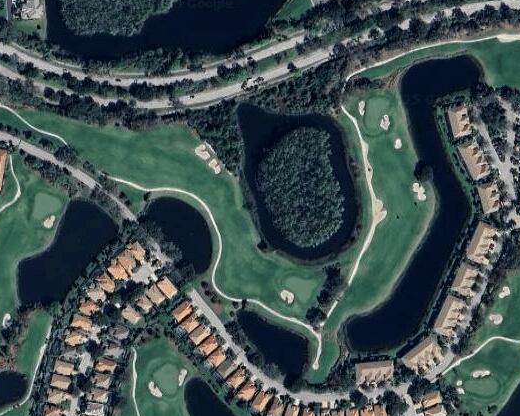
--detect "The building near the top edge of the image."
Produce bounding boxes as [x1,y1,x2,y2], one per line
[22,1,45,19]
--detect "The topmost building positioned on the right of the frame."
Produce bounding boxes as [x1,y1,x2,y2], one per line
[449,107,474,139]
